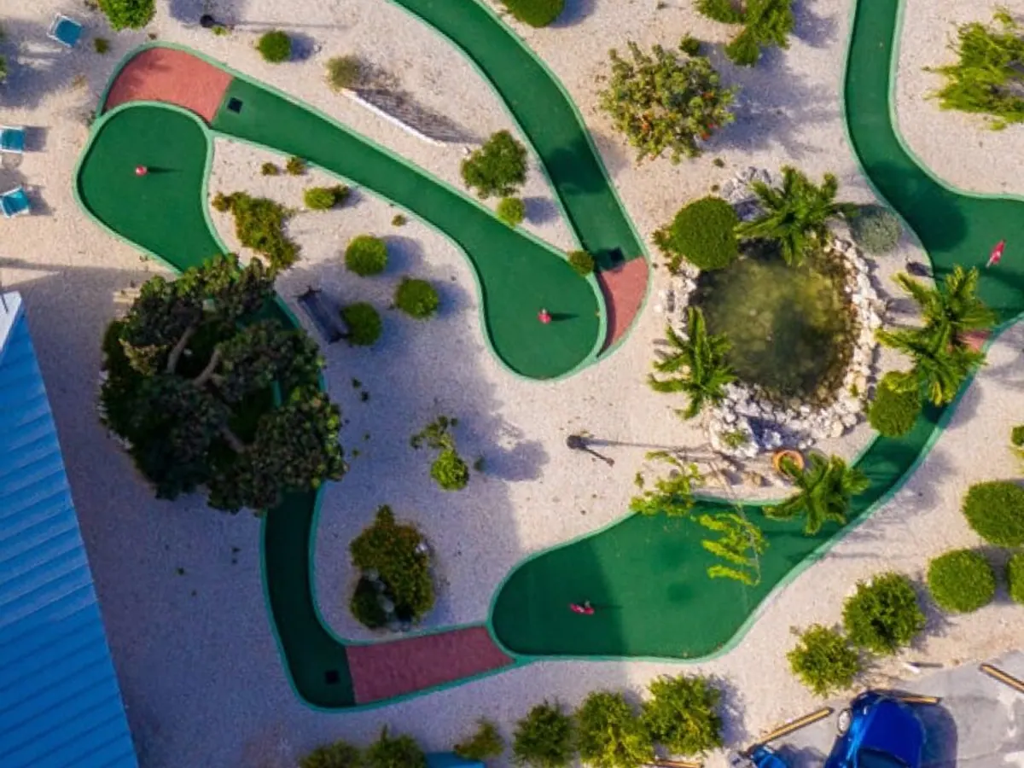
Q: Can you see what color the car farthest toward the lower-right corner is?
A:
blue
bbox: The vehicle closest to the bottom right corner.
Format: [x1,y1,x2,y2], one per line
[827,687,917,768]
